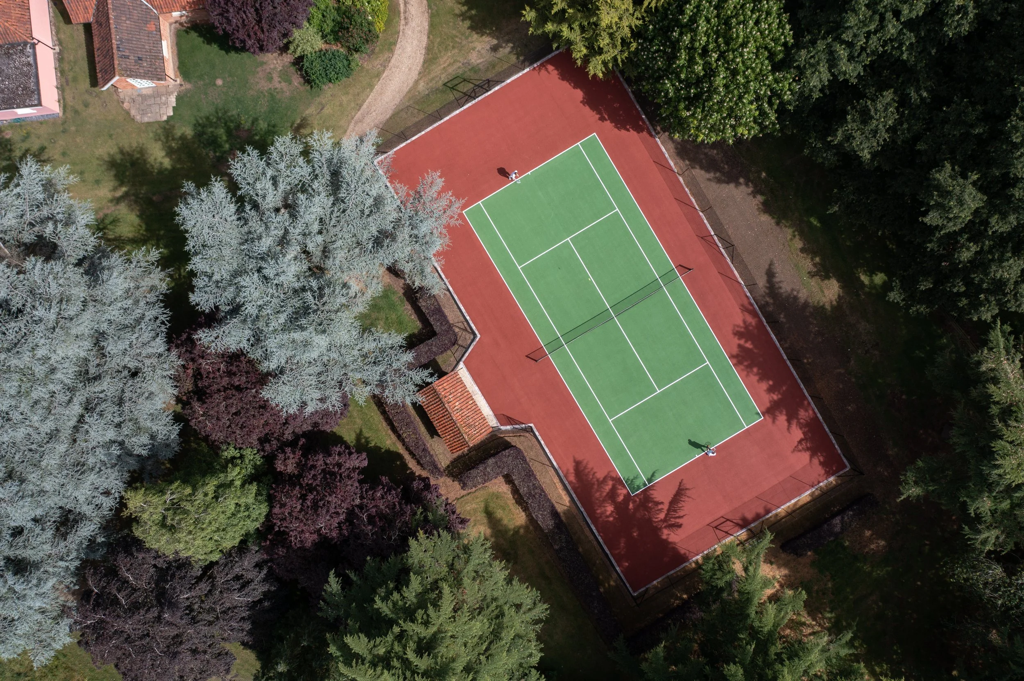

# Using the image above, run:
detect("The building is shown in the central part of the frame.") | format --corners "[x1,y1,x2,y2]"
[418,365,499,454]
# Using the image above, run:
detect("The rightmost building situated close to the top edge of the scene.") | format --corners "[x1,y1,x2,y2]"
[65,0,219,90]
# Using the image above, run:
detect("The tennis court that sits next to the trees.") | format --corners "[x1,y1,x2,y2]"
[372,40,851,598]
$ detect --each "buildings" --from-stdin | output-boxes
[0,0,61,118]
[418,365,499,454]
[65,0,219,90]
